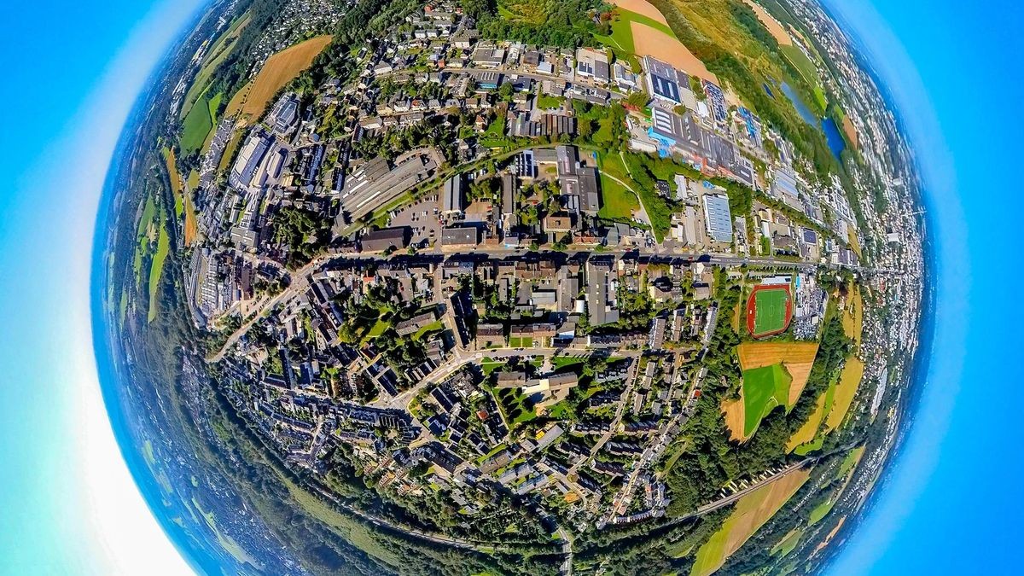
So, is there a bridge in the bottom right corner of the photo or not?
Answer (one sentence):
Yes, a bridge appears in the bottom right corner of the photo.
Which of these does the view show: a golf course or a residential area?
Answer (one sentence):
It's a residential area.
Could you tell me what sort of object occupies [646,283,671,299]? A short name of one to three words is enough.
house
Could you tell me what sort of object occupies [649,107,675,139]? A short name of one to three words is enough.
building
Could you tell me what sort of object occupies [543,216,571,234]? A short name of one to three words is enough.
house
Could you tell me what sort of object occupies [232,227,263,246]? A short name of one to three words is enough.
building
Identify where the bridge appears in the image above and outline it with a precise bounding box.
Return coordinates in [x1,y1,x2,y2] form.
[693,444,862,516]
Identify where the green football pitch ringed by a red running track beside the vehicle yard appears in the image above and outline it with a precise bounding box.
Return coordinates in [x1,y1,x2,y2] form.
[747,283,793,339]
